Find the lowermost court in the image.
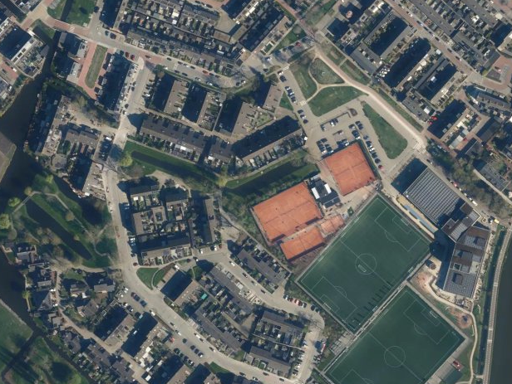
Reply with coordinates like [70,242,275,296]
[281,227,325,259]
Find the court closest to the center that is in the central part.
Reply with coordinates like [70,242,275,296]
[252,182,324,241]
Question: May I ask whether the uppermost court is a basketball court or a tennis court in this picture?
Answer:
tennis court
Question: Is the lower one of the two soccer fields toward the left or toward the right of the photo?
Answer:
right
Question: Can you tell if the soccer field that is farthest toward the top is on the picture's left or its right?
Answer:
right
